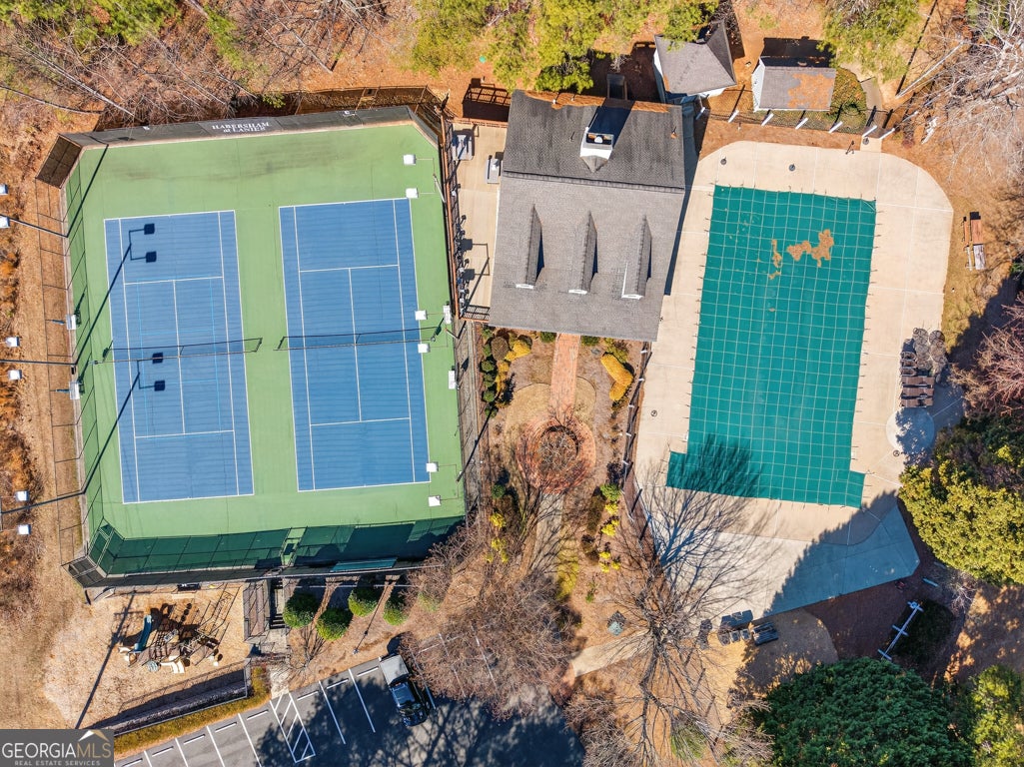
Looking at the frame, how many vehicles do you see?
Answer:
one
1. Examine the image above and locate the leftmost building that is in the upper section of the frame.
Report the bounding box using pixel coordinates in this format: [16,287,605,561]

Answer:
[490,63,682,343]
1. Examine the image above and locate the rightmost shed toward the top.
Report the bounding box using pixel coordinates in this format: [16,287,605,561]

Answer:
[749,57,838,114]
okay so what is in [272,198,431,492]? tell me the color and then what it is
blue tennis court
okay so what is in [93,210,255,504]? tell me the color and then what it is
blue tennis court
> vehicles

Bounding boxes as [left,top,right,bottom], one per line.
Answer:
[378,649,427,725]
